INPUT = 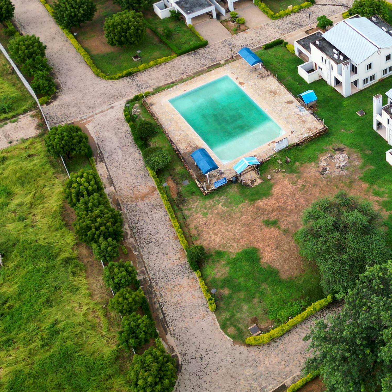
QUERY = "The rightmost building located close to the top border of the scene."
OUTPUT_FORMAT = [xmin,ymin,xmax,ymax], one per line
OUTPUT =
[293,13,392,97]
